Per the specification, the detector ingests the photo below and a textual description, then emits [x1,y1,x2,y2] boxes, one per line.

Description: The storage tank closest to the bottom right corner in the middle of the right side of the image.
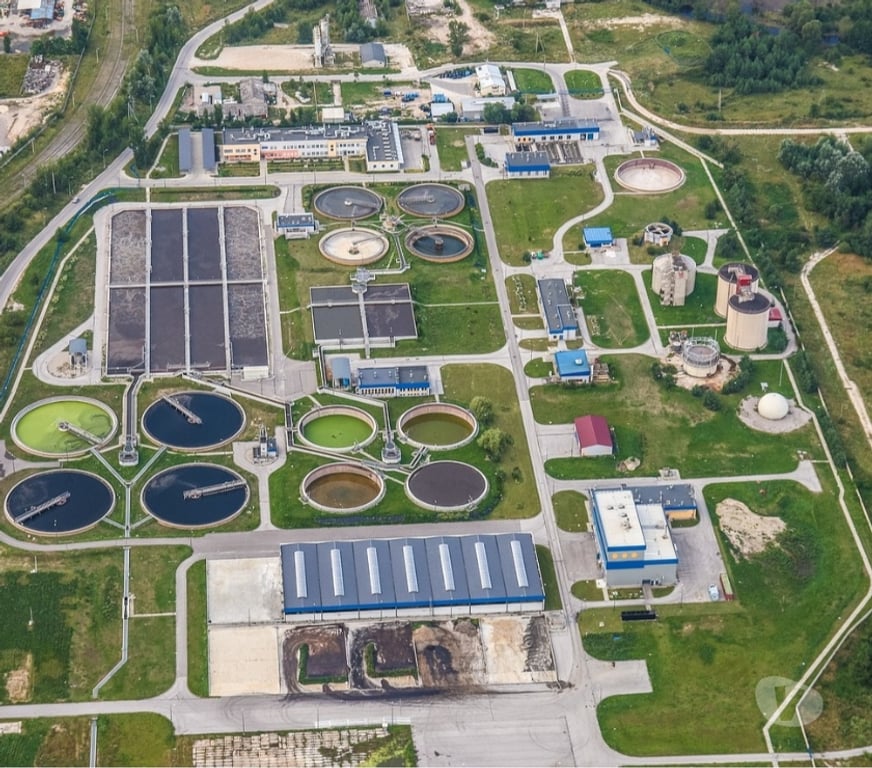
[754,392,791,426]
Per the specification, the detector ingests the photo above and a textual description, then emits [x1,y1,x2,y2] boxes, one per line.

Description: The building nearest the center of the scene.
[357,365,432,398]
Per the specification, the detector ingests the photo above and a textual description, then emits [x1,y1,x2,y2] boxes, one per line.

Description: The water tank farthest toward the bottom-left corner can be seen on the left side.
[3,468,116,536]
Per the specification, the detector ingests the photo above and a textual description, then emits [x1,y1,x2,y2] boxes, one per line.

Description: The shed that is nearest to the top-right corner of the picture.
[625,127,668,151]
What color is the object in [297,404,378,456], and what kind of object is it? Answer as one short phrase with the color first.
green water tank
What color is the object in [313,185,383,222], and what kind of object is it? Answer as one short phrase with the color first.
gray water tank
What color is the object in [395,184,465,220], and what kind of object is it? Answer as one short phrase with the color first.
gray water tank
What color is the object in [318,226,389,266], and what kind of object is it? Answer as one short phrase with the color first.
white water tank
